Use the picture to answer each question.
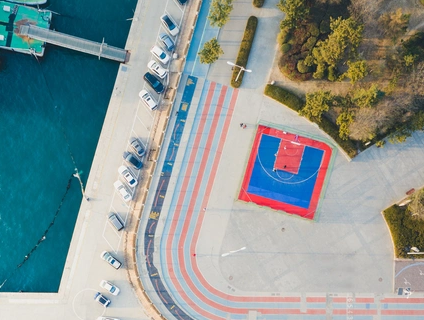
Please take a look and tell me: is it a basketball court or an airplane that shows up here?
basketball court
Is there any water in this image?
Yes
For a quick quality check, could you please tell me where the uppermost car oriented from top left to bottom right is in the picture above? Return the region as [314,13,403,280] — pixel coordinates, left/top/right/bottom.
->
[160,14,180,35]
